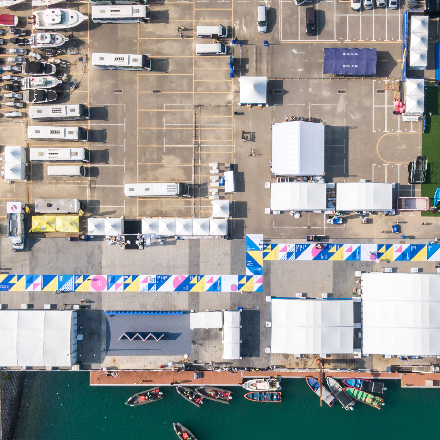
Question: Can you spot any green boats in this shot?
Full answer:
Yes, there's a green boat here.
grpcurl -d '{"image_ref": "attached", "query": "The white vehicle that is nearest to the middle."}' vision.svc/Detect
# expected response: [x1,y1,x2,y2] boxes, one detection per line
[127,181,188,198]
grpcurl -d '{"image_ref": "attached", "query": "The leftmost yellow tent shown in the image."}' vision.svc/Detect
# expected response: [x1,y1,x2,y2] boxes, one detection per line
[32,215,58,233]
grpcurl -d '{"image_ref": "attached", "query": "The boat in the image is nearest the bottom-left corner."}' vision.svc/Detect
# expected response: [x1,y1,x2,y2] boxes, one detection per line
[125,386,164,406]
